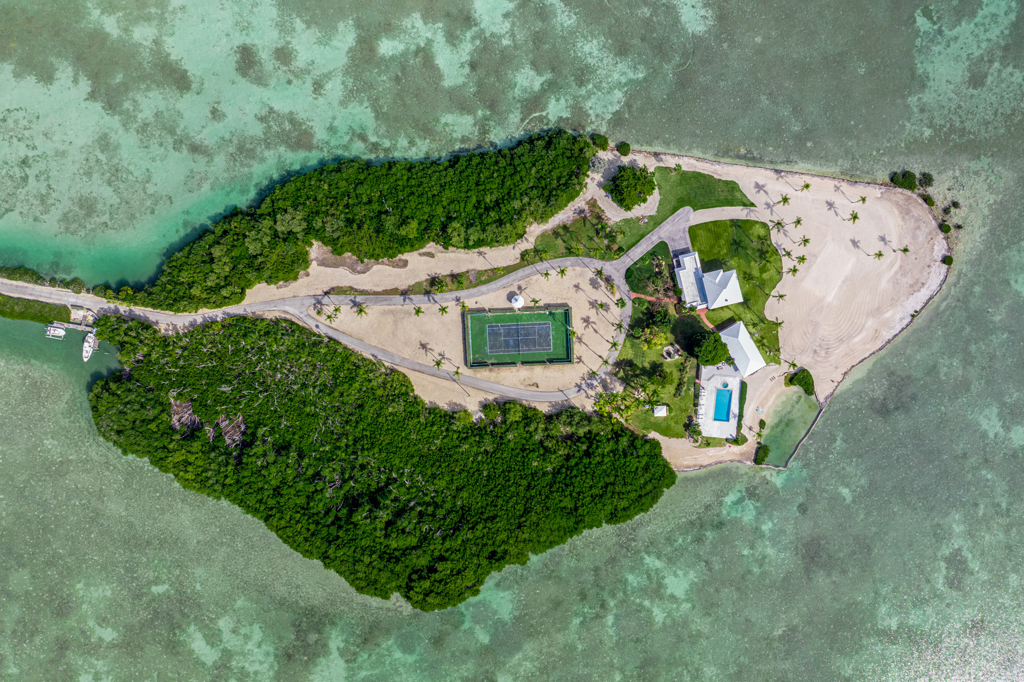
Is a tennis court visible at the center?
Yes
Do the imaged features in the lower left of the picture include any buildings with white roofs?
No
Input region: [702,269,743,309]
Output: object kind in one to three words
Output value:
house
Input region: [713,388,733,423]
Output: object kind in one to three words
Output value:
swimming pool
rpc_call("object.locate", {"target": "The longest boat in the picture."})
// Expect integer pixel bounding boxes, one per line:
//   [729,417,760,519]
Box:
[84,333,96,362]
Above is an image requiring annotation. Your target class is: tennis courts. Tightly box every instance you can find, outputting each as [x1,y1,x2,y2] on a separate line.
[470,310,570,366]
